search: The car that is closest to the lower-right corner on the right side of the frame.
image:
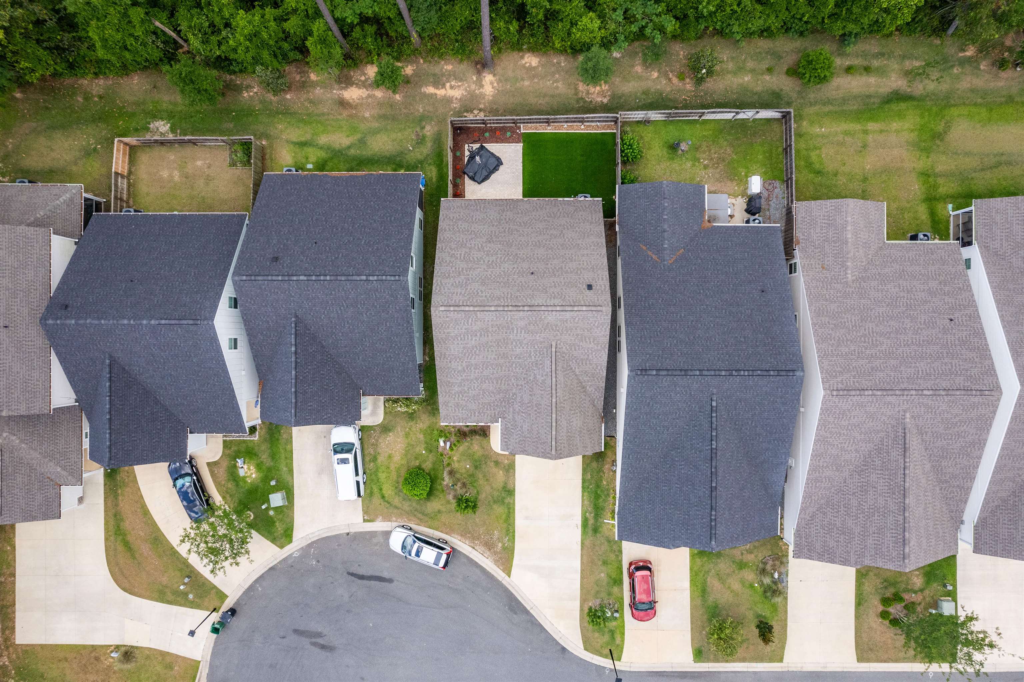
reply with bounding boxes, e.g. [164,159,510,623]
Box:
[628,559,662,623]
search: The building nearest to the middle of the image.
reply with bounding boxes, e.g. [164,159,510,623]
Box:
[431,196,614,461]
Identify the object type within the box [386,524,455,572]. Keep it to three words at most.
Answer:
car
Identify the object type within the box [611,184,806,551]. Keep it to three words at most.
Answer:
house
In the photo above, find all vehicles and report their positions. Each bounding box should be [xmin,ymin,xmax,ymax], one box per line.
[386,524,455,572]
[628,559,662,623]
[326,422,367,501]
[165,457,215,526]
